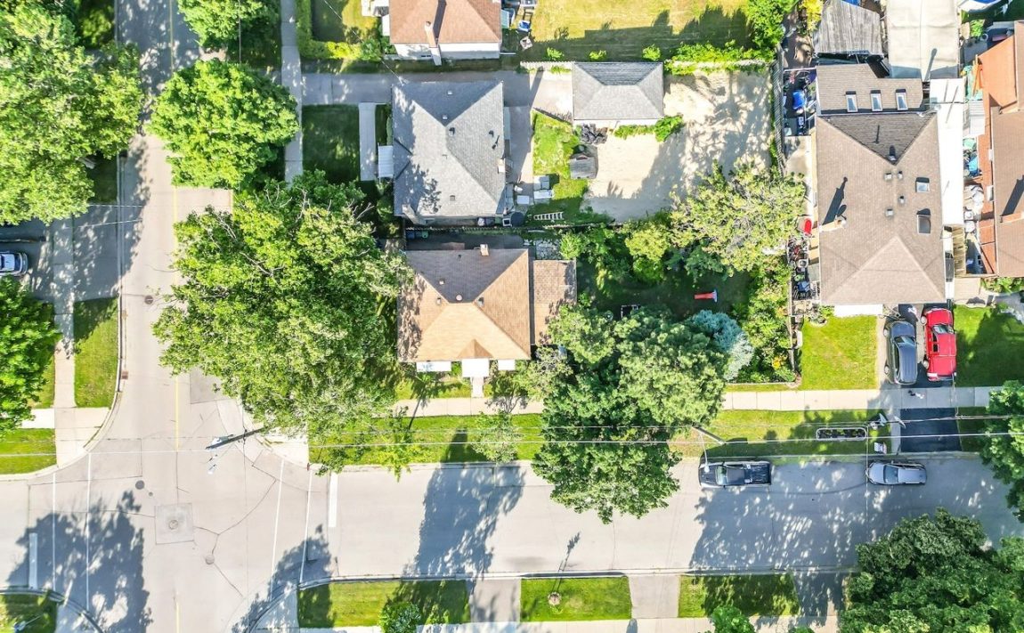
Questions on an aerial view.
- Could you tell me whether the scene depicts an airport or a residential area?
residential area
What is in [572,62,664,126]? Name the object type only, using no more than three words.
building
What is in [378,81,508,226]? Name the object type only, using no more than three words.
house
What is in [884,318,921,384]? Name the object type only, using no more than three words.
car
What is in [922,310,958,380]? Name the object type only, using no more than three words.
truck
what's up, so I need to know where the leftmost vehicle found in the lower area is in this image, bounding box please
[696,458,773,490]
